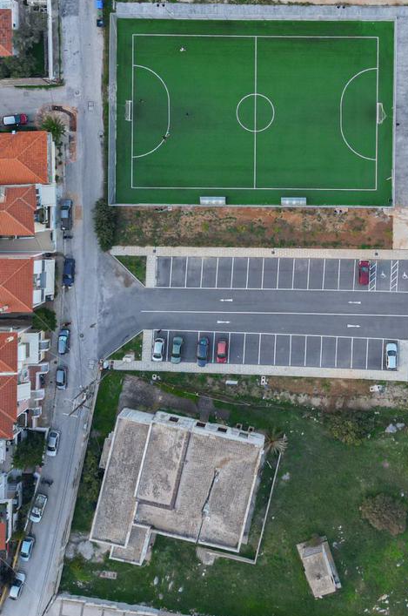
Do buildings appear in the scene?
Yes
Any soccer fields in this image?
Yes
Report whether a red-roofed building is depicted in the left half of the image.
Yes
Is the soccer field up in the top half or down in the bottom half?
top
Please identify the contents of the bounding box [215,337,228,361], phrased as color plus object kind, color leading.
red vehicle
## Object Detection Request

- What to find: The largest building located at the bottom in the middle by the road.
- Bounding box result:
[88,409,267,566]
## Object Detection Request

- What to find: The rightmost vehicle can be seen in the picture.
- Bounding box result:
[385,342,398,369]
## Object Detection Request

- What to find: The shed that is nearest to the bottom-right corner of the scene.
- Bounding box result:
[296,534,342,596]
